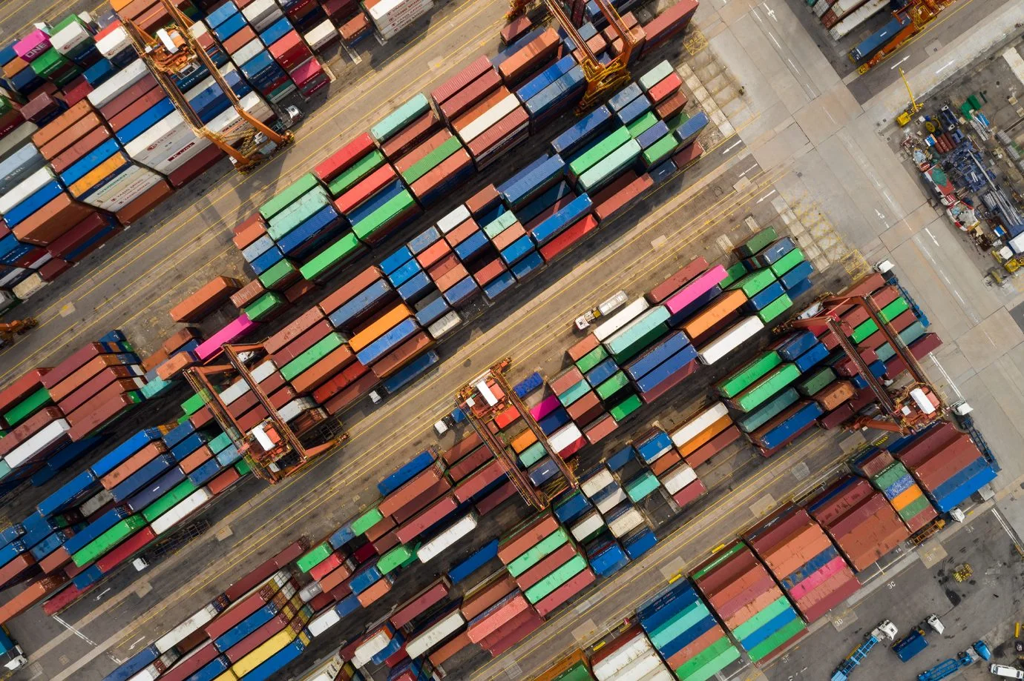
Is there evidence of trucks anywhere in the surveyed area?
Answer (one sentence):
Yes, a truck appears in the view.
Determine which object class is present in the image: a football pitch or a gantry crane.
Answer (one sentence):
The one in the frame is a gantry crane.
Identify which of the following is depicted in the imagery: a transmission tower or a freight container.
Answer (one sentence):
The image shows a freight container.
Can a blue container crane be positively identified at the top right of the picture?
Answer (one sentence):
No, no blue container crane can be made out at the top right of the picture.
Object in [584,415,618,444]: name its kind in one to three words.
shipping container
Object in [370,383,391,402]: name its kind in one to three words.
vehicle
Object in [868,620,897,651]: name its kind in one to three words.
truck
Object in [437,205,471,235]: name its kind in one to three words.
shipping container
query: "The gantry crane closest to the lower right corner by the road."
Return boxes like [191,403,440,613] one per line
[772,287,954,442]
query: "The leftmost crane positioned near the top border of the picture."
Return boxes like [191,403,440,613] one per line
[114,0,295,170]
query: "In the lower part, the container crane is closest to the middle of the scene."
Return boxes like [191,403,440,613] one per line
[454,354,588,519]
